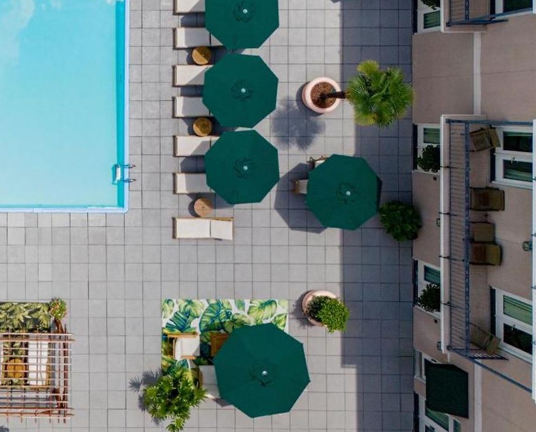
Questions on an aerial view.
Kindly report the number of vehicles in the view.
zero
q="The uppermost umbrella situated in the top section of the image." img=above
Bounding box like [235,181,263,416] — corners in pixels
[205,0,278,51]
